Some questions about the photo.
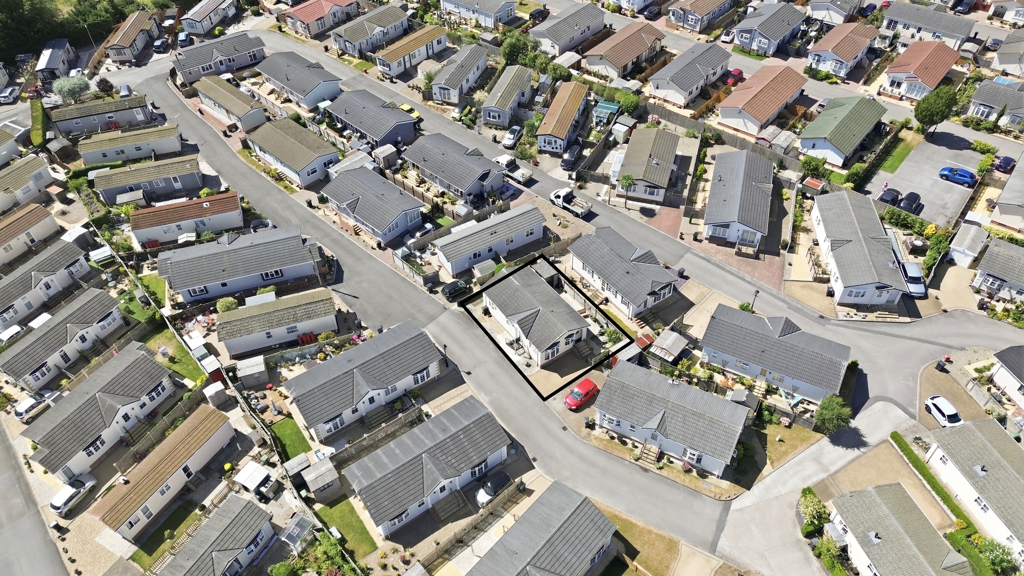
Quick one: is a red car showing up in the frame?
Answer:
Yes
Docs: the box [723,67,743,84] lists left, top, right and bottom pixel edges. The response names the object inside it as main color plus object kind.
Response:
red car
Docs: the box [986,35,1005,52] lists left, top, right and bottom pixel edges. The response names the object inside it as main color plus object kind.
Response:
gray car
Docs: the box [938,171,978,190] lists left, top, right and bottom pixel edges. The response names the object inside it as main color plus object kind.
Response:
blue car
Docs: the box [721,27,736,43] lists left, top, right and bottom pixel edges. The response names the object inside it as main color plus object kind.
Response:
white car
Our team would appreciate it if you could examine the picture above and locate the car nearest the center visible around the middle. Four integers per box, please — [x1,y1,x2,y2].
[439,281,475,306]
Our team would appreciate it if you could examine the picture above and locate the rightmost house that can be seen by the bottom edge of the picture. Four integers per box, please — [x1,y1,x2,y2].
[924,415,1024,562]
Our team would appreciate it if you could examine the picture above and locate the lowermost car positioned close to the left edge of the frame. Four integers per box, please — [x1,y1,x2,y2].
[48,476,98,517]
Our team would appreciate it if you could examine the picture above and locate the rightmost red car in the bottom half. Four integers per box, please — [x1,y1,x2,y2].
[563,378,599,412]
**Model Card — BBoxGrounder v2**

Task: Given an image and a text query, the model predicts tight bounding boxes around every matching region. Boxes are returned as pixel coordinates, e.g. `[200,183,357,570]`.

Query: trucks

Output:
[548,191,594,220]
[494,152,534,180]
